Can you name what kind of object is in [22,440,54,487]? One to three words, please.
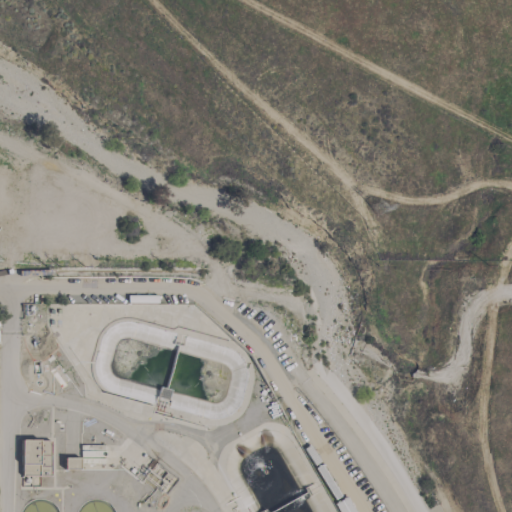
building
